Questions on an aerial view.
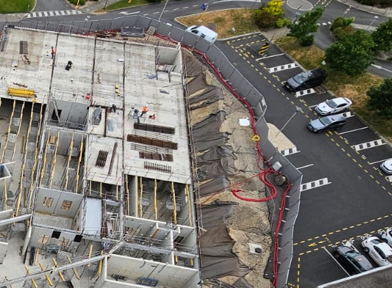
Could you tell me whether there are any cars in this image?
Yes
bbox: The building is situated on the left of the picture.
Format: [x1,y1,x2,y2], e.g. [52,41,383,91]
[0,25,203,288]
